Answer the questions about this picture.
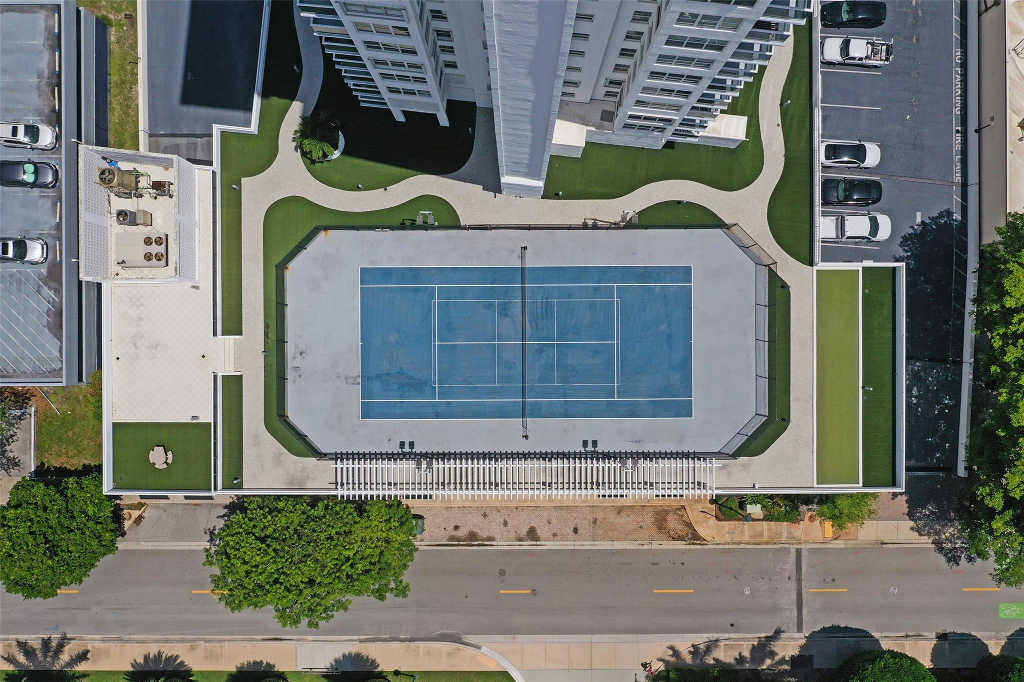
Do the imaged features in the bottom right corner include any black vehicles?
No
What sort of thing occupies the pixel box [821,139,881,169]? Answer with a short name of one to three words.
car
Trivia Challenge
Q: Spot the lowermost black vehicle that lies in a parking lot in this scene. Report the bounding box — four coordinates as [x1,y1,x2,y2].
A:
[821,176,882,207]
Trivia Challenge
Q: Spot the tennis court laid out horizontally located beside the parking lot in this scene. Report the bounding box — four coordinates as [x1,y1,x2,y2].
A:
[287,229,766,454]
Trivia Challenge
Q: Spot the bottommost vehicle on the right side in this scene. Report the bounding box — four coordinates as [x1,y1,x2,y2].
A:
[821,211,892,244]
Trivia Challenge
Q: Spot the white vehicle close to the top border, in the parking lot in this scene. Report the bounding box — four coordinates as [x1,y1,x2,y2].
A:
[821,33,897,68]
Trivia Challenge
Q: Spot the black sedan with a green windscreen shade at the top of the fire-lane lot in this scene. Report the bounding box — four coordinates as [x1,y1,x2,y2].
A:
[821,0,885,31]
